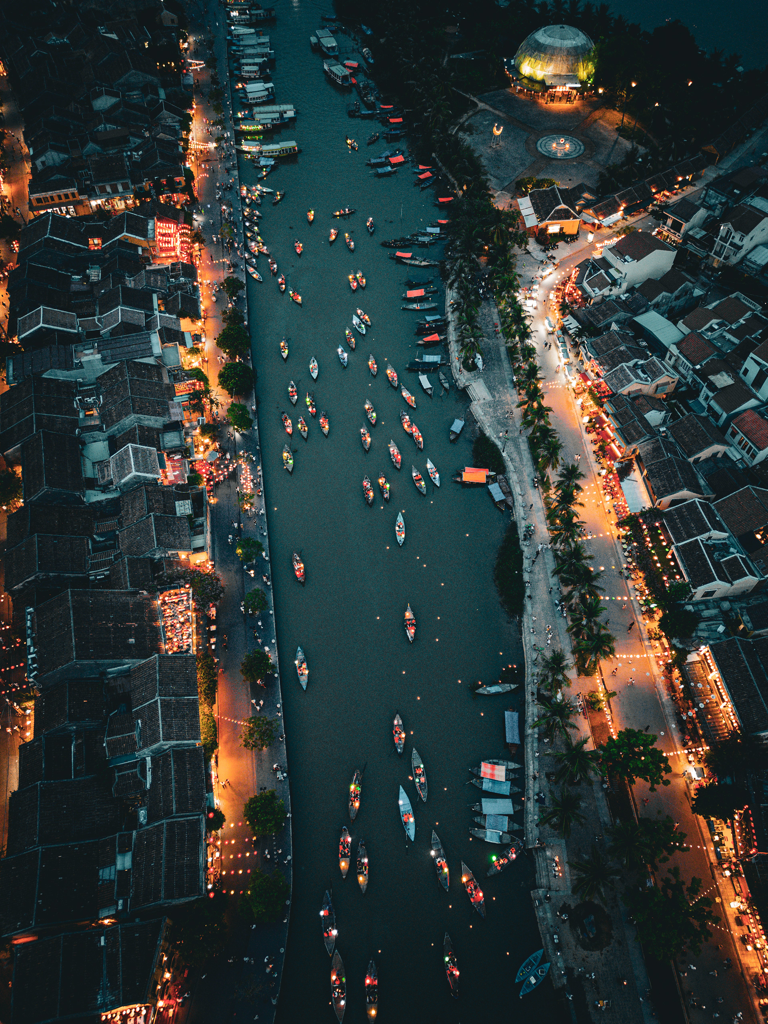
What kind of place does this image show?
residential area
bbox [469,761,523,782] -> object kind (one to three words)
boat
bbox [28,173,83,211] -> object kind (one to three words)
house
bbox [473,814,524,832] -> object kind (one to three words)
boat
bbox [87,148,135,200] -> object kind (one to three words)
house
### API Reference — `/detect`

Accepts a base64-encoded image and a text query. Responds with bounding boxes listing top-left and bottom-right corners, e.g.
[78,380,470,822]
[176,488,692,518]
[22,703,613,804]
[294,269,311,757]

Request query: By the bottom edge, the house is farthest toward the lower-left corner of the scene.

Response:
[10,929,114,1024]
